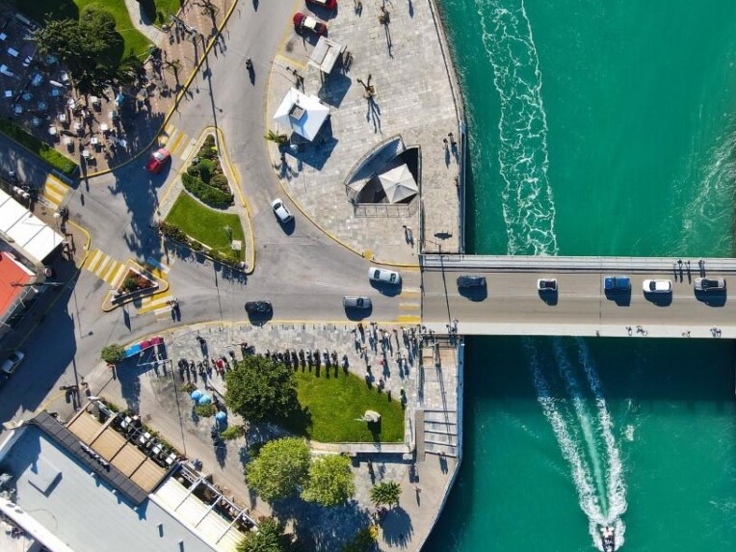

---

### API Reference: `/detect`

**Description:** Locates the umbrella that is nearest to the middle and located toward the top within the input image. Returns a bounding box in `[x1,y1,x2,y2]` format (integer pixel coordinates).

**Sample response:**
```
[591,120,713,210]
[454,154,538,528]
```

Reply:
[384,167,419,204]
